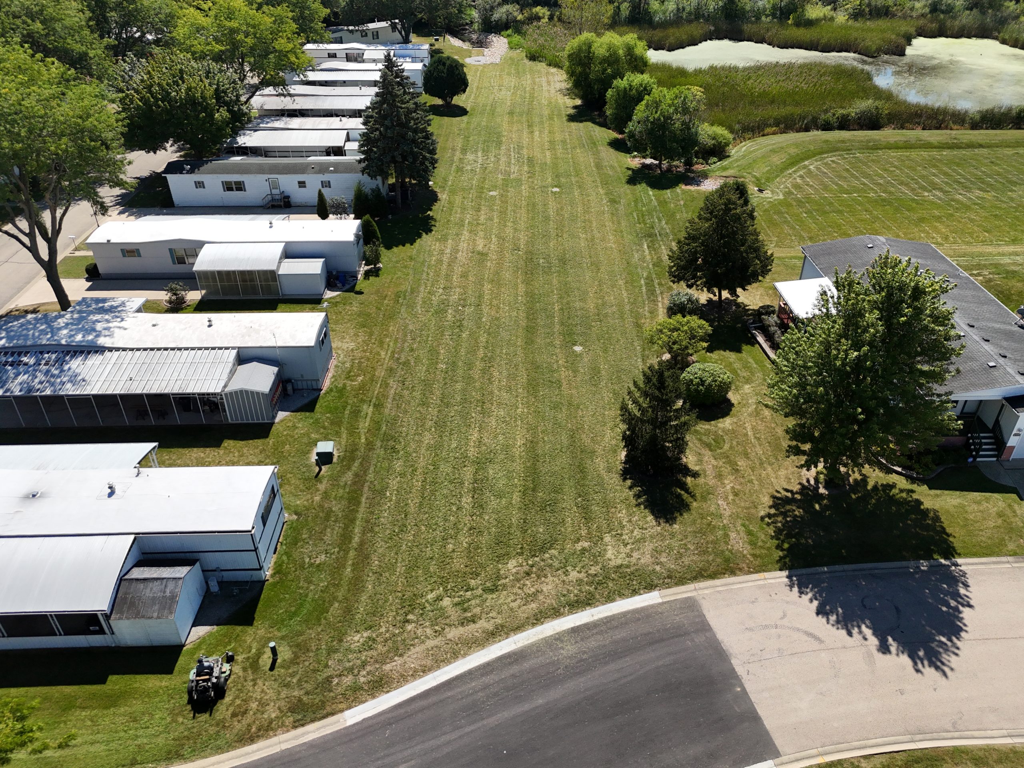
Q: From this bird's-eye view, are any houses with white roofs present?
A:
Yes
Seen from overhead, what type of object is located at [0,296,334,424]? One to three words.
house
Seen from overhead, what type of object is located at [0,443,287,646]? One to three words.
house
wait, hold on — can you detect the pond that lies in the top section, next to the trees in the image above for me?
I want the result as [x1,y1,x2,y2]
[641,40,1024,118]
